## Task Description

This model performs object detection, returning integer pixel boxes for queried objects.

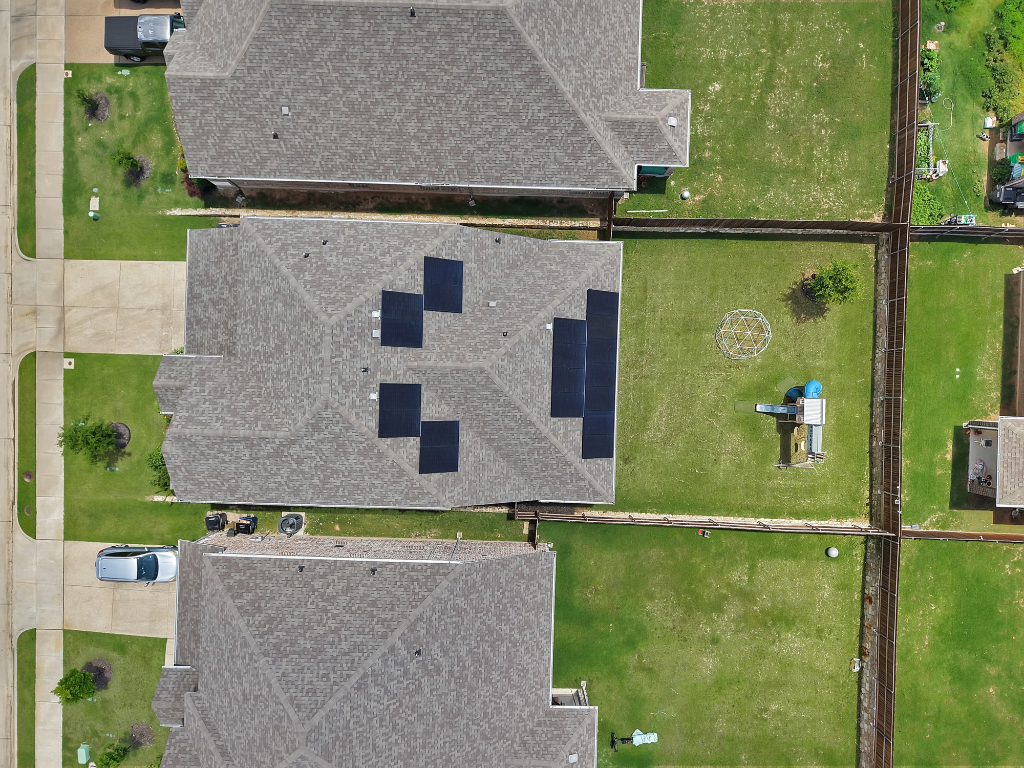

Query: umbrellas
[610,728,659,751]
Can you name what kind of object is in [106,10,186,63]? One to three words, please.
truck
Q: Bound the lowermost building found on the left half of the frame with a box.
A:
[152,528,601,768]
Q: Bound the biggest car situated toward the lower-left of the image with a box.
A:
[93,541,174,590]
